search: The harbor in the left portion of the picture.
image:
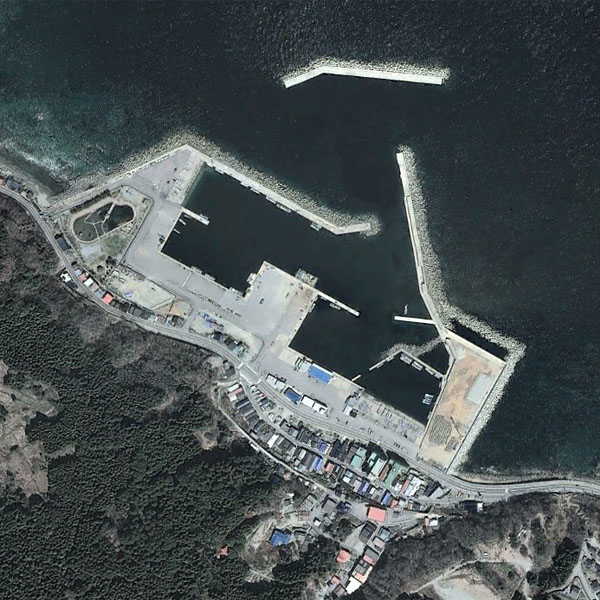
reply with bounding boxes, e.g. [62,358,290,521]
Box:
[52,146,424,449]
